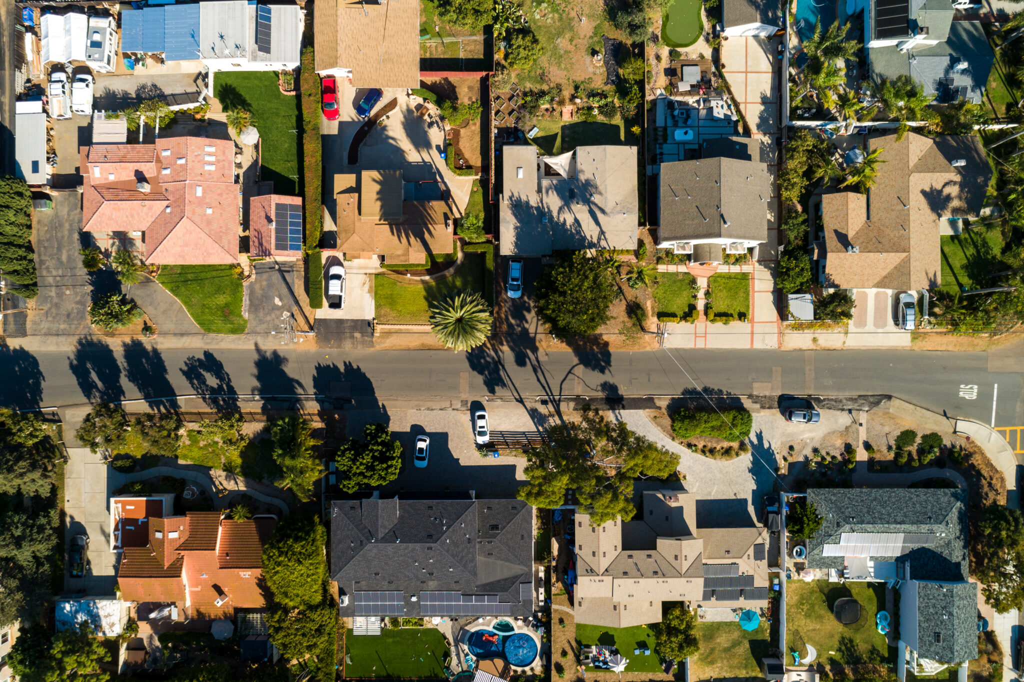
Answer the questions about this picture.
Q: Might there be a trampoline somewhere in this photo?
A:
Yes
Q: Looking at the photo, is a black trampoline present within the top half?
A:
No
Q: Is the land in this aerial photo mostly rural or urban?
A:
urban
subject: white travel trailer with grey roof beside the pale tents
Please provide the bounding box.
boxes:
[89,15,121,85]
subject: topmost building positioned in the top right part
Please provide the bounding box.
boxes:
[719,0,781,35]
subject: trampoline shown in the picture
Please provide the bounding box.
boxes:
[832,594,869,629]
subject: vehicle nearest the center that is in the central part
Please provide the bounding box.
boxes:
[506,260,524,298]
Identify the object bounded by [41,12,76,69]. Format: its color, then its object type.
white tent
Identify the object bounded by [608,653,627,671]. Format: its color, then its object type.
white umbrella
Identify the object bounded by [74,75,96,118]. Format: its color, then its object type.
white vehicle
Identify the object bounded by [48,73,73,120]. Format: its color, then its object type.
white truck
